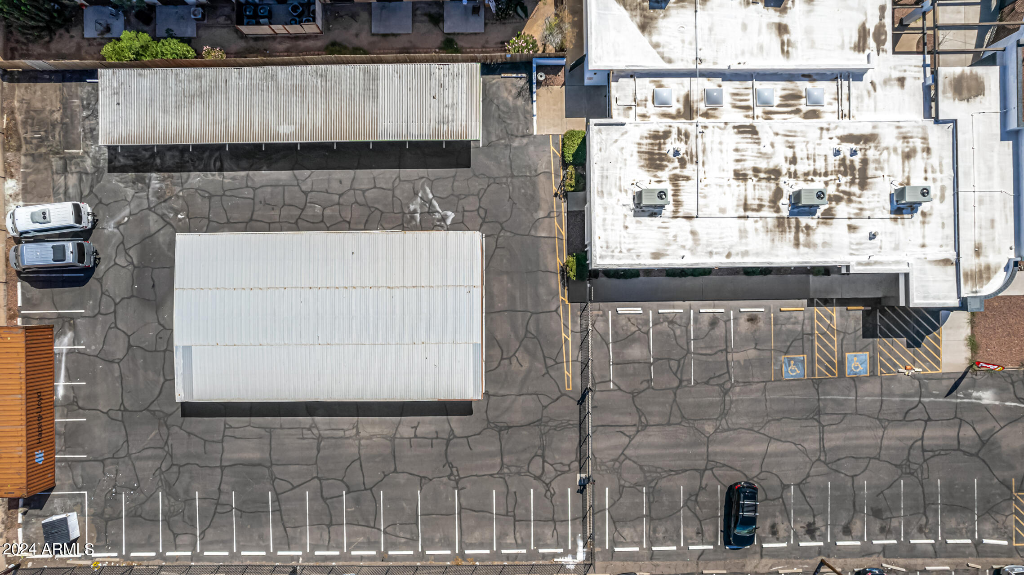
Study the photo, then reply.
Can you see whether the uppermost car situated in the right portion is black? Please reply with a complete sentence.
Yes, the uppermost car situated in the right portion appears black.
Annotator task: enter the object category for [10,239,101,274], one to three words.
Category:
van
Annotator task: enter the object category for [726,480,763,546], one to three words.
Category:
car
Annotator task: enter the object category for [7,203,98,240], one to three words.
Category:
van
